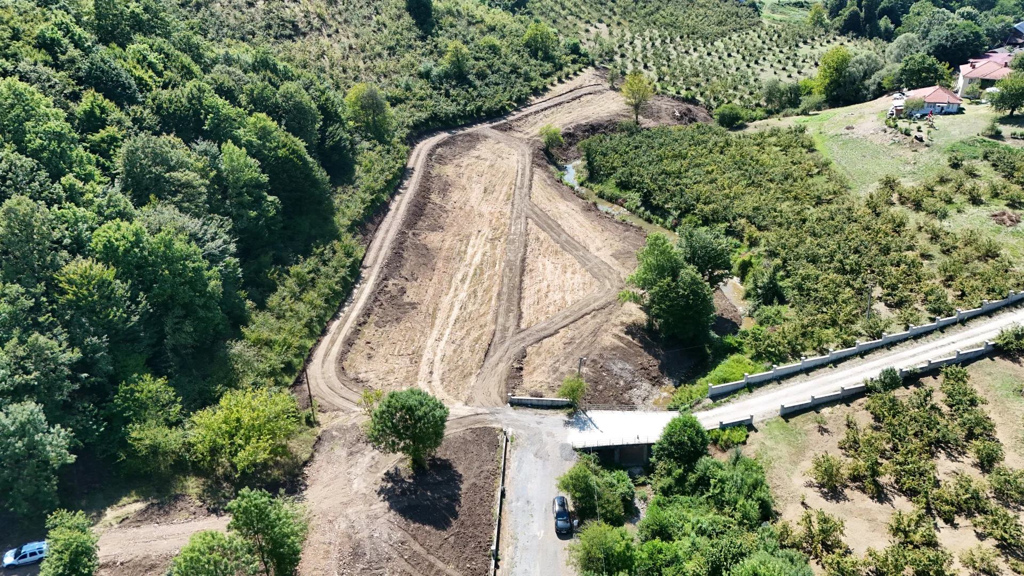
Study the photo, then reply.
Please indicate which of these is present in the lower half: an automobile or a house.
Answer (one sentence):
Looking in the lower half, you will find an automobile.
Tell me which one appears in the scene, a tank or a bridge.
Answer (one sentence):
Looking from above, you can make out a bridge.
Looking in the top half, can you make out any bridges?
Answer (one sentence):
No, no bridge can be made out in the top half.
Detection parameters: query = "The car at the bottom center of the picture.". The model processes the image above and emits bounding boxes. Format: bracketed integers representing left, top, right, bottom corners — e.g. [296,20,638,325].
[549,495,574,537]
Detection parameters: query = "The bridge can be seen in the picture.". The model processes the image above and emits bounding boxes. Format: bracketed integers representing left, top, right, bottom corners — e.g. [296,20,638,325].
[567,403,685,459]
